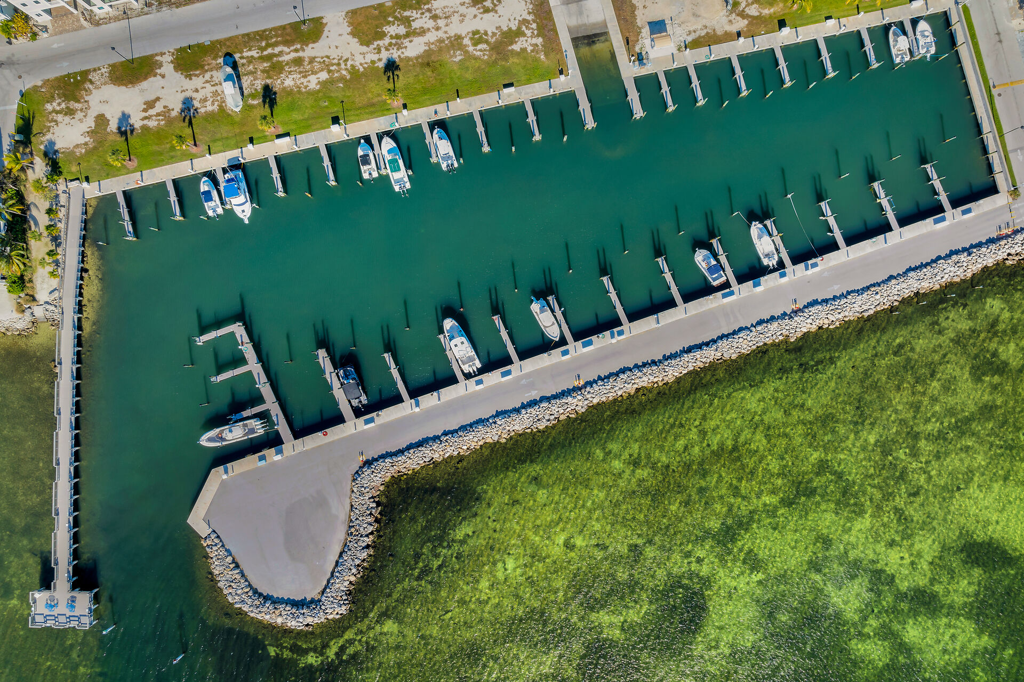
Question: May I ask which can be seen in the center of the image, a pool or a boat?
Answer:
boat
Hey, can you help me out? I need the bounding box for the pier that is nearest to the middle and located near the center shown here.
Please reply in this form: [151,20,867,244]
[492,313,519,363]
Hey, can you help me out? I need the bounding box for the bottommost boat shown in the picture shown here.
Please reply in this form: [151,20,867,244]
[196,420,266,447]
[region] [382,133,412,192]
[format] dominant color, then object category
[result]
white boat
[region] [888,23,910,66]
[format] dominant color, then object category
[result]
white boat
